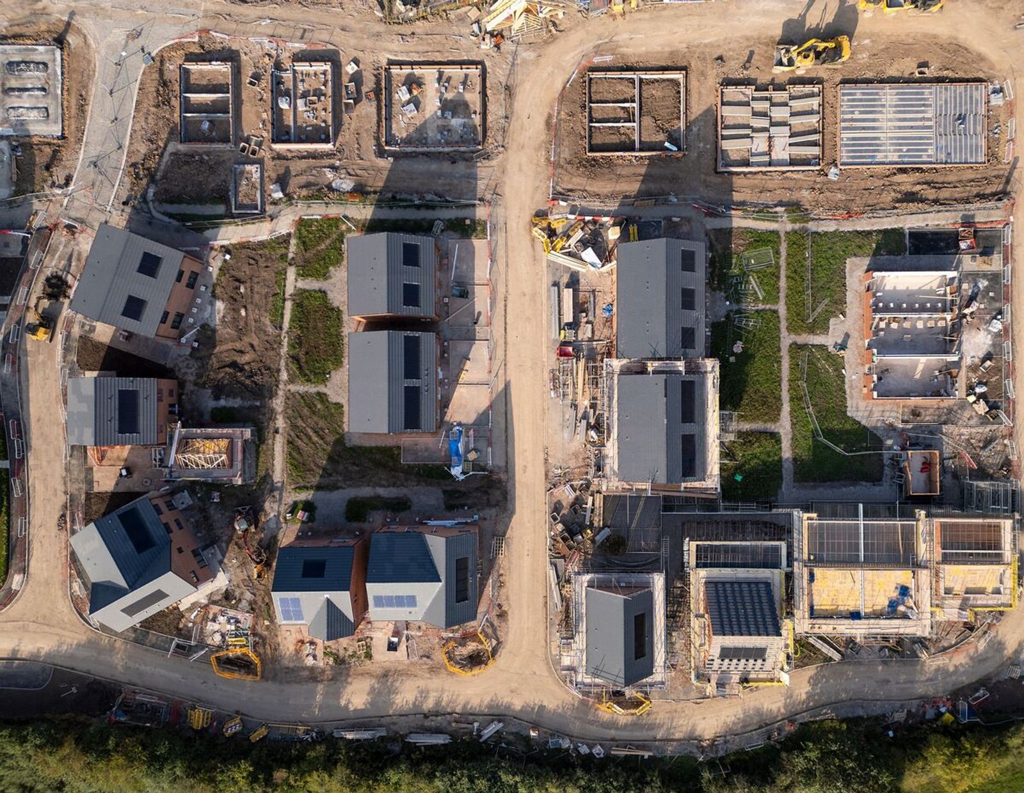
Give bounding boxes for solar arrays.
[681,381,695,423]
[373,595,417,608]
[302,560,326,577]
[681,327,695,349]
[719,646,767,659]
[403,244,419,266]
[122,295,146,322]
[682,434,696,476]
[635,613,645,659]
[681,288,695,310]
[120,589,169,617]
[404,336,420,378]
[118,506,156,554]
[681,249,695,271]
[118,389,139,433]
[404,386,420,428]
[137,251,162,278]
[279,598,304,621]
[403,283,420,306]
[456,558,470,602]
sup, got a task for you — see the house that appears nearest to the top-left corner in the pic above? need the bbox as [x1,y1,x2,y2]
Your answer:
[71,223,202,339]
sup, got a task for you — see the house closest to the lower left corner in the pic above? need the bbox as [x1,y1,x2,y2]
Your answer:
[71,493,215,633]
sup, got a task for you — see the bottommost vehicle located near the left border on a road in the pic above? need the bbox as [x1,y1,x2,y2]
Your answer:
[21,297,51,342]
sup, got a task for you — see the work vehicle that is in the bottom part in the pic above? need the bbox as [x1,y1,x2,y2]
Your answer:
[231,513,261,564]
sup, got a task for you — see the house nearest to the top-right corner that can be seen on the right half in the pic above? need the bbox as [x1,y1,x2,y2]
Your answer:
[855,271,959,399]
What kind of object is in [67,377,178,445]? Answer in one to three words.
house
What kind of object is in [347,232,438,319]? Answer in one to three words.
house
